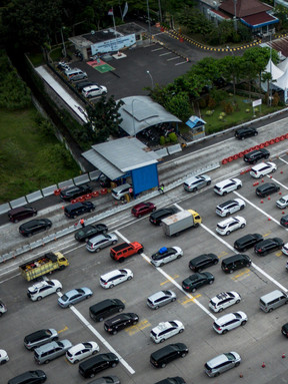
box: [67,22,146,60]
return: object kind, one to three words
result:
building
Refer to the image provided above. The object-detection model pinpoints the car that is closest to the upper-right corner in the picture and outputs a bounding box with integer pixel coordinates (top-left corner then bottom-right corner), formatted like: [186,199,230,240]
[234,127,259,142]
